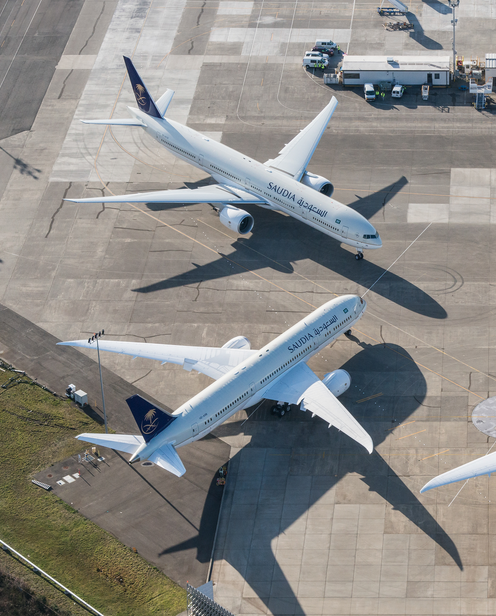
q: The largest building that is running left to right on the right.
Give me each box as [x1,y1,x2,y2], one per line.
[342,56,454,88]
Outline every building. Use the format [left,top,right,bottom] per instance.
[342,56,454,88]
[485,56,496,89]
